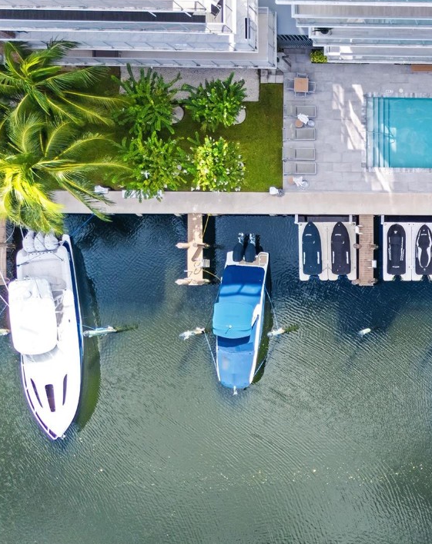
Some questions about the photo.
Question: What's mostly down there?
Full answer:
The bulk of the photo consists of water.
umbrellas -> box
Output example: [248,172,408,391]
[291,176,312,191]
[298,113,318,127]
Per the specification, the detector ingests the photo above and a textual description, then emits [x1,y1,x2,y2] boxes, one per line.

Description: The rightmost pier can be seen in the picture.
[380,217,432,281]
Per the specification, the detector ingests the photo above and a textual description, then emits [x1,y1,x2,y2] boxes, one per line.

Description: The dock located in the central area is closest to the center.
[173,217,215,284]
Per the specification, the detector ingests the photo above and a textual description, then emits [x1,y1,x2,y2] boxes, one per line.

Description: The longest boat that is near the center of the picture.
[212,226,273,396]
